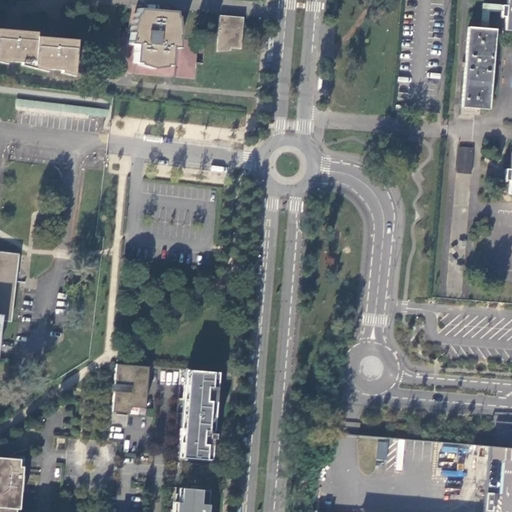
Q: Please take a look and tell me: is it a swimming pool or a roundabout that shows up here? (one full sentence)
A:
I can see a roundabout in this picture.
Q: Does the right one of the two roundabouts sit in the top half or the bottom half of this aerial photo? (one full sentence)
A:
It is in the bottom half that the right one of the two roundabouts appears.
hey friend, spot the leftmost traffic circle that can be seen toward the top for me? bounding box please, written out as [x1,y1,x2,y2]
[258,135,318,194]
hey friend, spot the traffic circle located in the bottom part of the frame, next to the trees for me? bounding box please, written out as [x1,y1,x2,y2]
[342,339,400,399]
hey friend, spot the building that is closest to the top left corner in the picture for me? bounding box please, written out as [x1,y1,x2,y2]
[0,24,40,68]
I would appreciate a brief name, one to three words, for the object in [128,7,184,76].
building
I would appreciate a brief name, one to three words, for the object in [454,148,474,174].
shed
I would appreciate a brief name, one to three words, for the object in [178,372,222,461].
building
